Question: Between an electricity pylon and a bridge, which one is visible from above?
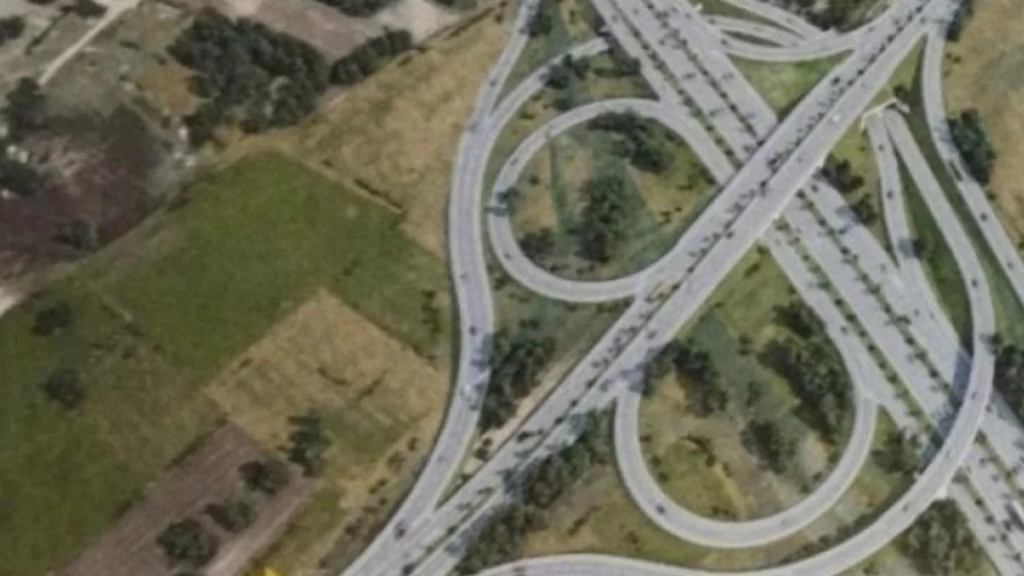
bridge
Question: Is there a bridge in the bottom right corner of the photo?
Yes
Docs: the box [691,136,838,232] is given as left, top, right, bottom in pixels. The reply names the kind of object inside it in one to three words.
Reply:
bridge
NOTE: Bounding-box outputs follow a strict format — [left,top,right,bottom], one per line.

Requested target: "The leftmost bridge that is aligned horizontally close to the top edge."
[593,0,715,41]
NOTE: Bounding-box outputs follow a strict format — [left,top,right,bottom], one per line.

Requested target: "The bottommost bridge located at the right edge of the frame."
[907,348,995,495]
